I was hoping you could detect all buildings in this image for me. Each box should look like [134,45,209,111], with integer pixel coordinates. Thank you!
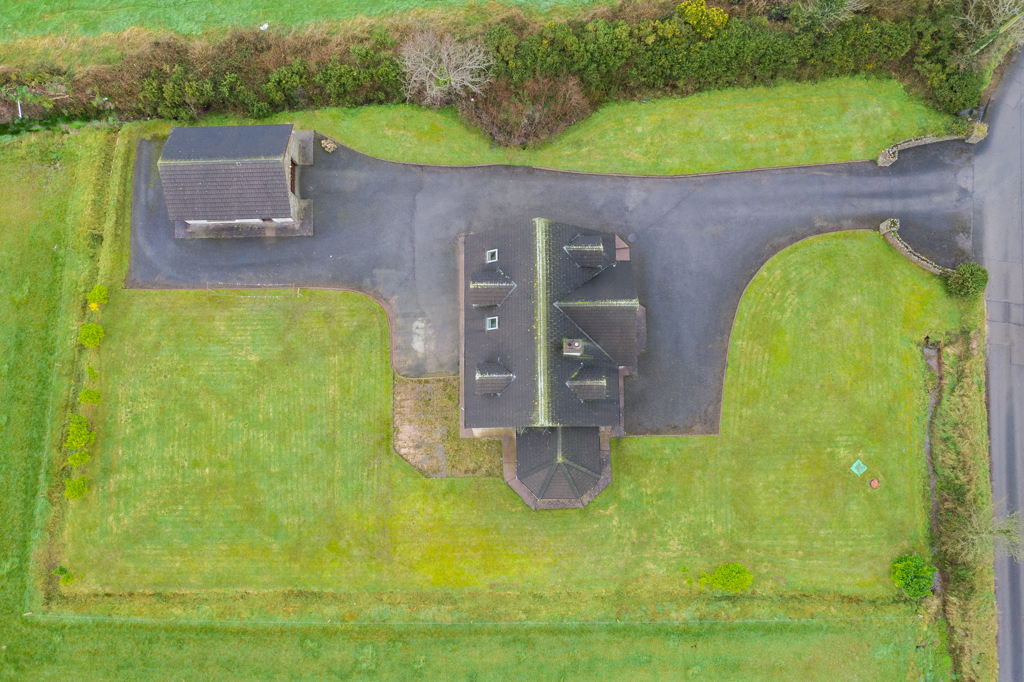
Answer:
[156,122,301,225]
[463,217,642,501]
